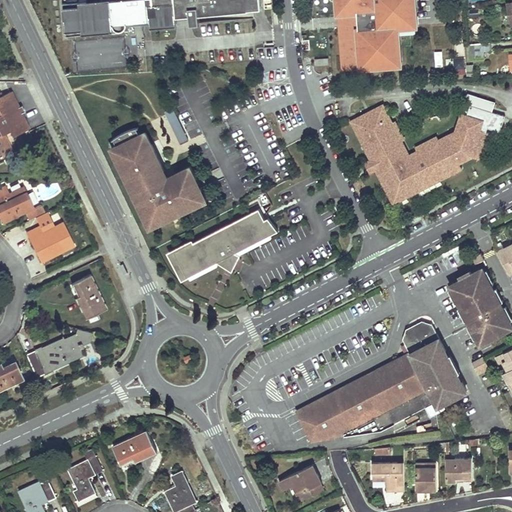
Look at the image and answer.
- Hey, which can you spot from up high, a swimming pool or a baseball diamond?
swimming pool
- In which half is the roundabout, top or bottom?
bottom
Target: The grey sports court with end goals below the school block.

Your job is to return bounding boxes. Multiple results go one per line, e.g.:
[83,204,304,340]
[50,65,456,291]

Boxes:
[74,36,128,73]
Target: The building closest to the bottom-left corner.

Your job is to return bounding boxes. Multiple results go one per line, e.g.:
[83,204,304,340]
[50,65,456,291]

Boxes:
[18,482,56,512]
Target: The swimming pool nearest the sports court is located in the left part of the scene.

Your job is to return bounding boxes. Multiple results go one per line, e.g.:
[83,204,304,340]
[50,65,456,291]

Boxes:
[33,182,62,202]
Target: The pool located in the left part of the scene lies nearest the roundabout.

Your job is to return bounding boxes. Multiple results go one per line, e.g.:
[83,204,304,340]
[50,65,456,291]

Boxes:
[82,344,100,366]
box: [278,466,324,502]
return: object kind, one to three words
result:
house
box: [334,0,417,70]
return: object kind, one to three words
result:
building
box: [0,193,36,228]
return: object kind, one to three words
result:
house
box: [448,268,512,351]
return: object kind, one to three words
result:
building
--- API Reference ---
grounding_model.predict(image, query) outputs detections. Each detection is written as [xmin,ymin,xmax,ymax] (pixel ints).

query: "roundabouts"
[125,294,242,425]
